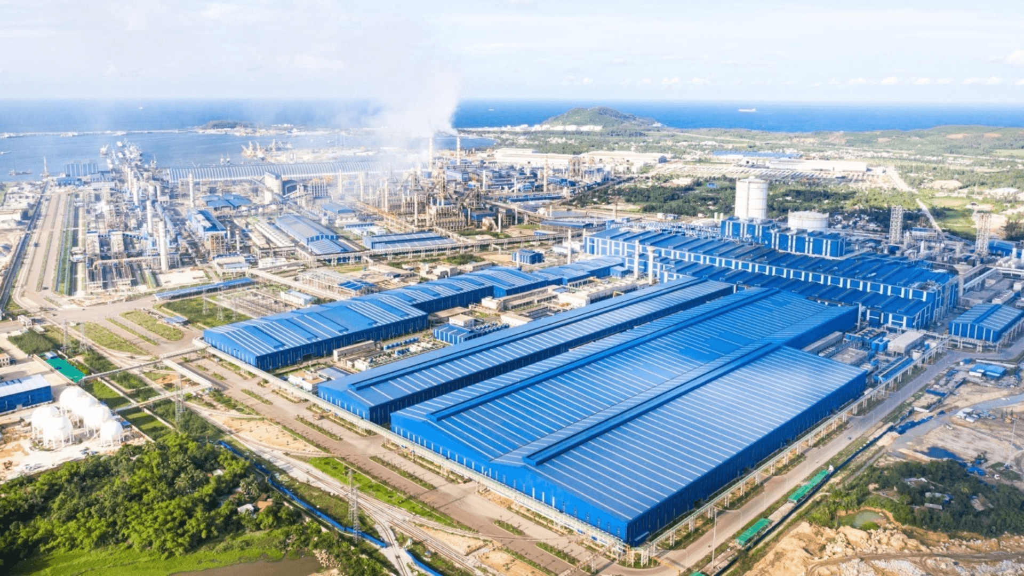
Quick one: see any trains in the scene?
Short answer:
No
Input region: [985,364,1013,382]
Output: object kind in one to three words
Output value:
shed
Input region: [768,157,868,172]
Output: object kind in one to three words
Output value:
building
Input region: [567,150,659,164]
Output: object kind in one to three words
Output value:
building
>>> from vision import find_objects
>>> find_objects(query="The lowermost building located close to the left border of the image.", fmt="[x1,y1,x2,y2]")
[0,375,53,414]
